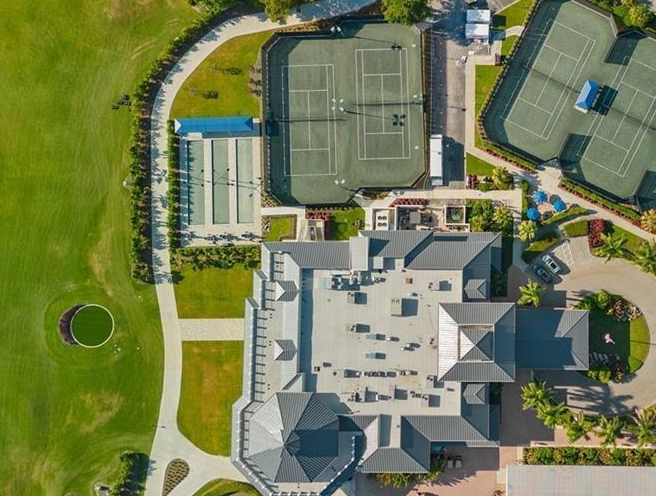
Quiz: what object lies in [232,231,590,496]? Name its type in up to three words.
building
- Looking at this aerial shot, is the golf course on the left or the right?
left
